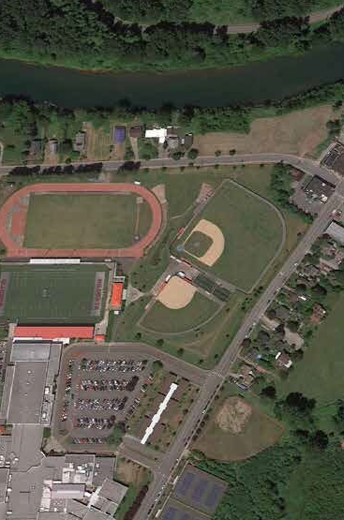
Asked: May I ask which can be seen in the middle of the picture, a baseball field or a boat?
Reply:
baseball field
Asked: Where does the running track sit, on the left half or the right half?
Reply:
left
